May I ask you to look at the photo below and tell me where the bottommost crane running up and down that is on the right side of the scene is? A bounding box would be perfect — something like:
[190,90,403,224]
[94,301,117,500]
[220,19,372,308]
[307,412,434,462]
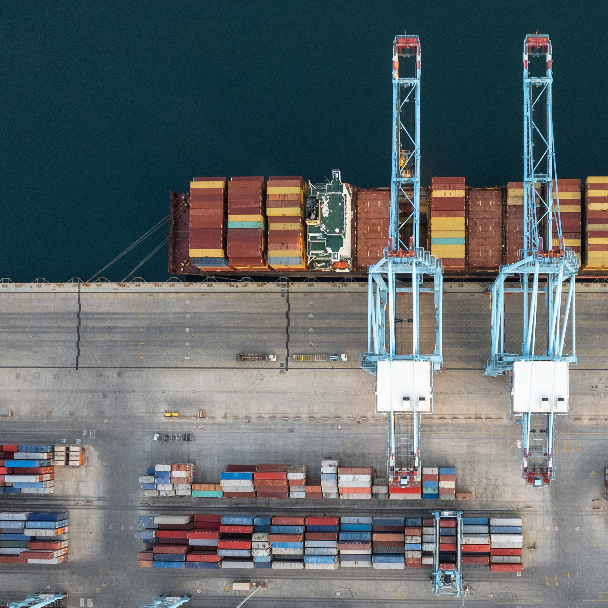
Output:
[422,512,464,595]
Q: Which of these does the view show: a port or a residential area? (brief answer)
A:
port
